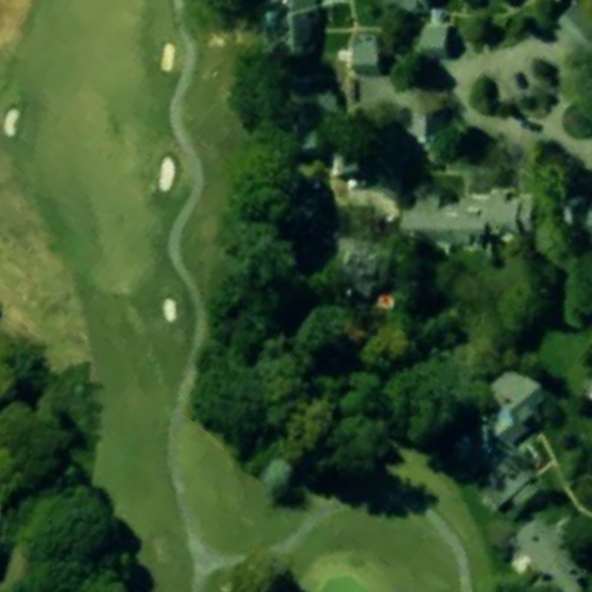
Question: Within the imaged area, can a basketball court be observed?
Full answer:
No, no basketball court can be seen from above.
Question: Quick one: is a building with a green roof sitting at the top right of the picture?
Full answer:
Yes, a building with a green roof can be seen at the top right of the picture.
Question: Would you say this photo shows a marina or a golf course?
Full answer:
This looks like a golf course.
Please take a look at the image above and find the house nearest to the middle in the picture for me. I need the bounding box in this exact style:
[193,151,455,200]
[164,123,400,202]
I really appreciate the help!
[332,232,394,291]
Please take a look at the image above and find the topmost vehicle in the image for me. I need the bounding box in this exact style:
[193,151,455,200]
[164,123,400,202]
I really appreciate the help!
[515,72,527,89]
